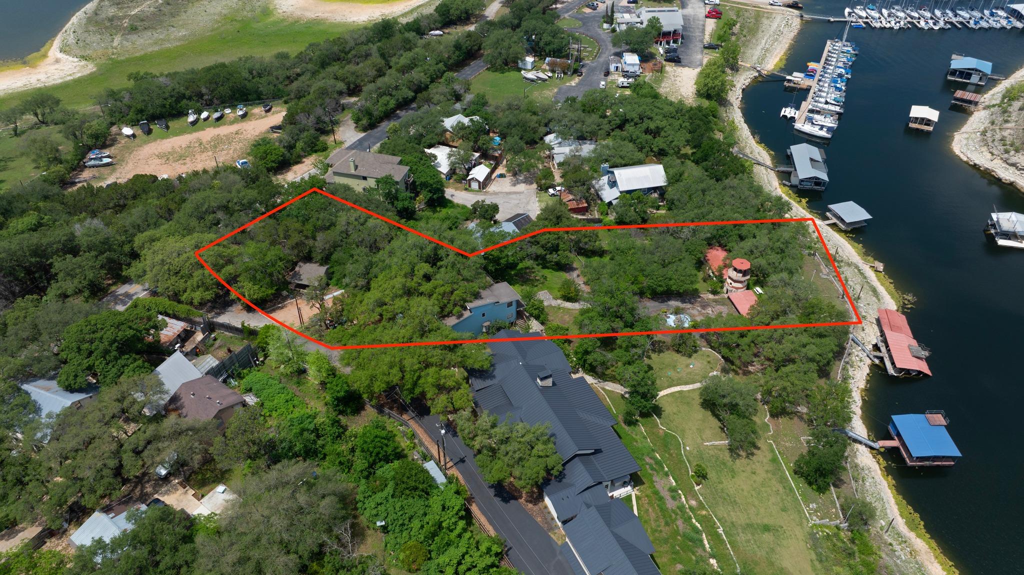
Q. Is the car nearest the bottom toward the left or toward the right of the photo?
left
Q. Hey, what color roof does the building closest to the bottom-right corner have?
blue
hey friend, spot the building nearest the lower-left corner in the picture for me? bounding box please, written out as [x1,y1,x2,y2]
[70,495,149,552]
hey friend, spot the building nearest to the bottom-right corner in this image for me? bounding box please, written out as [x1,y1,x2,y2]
[878,410,961,466]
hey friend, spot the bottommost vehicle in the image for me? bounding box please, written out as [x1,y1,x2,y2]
[142,484,173,513]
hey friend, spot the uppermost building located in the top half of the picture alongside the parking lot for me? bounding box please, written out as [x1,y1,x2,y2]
[610,7,684,47]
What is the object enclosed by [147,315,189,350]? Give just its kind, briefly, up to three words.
shed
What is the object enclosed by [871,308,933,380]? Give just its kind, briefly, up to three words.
building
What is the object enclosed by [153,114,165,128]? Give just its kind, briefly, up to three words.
boat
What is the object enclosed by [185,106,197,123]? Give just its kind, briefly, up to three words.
boat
